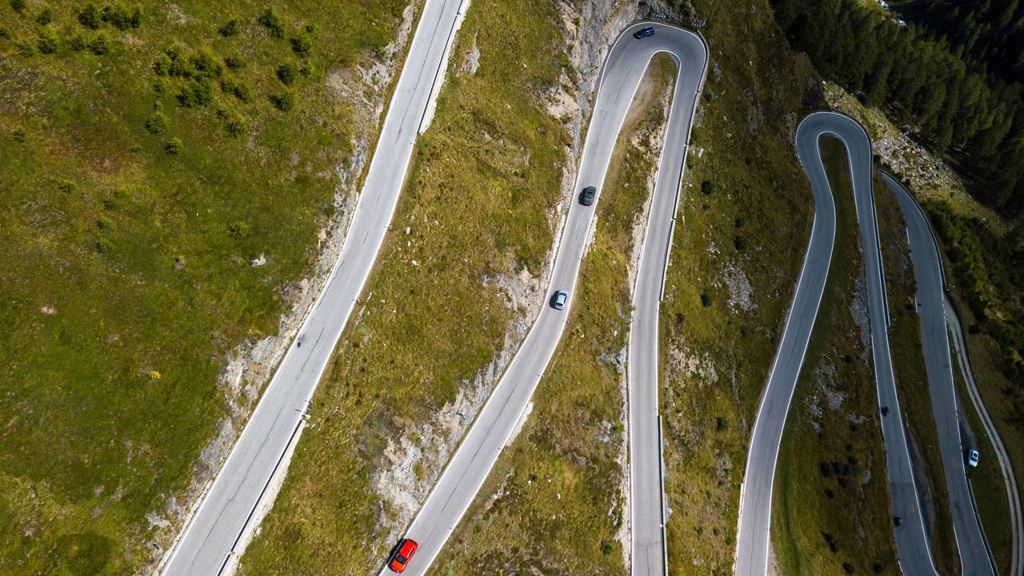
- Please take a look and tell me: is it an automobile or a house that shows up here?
automobile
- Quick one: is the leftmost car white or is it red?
red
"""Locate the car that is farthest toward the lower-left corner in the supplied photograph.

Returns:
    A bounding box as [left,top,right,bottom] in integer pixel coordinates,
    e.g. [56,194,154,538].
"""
[389,538,415,571]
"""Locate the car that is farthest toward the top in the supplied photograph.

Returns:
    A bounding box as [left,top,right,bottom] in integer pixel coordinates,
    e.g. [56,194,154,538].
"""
[633,25,654,38]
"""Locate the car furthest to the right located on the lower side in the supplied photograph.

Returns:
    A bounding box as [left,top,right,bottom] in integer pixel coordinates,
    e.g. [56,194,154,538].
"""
[966,448,979,469]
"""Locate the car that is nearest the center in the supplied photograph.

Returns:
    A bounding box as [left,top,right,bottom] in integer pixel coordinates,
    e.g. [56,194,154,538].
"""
[552,290,567,310]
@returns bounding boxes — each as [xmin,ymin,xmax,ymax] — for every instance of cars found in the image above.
[966,448,979,469]
[552,290,567,310]
[389,538,415,571]
[633,25,654,38]
[581,187,594,205]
